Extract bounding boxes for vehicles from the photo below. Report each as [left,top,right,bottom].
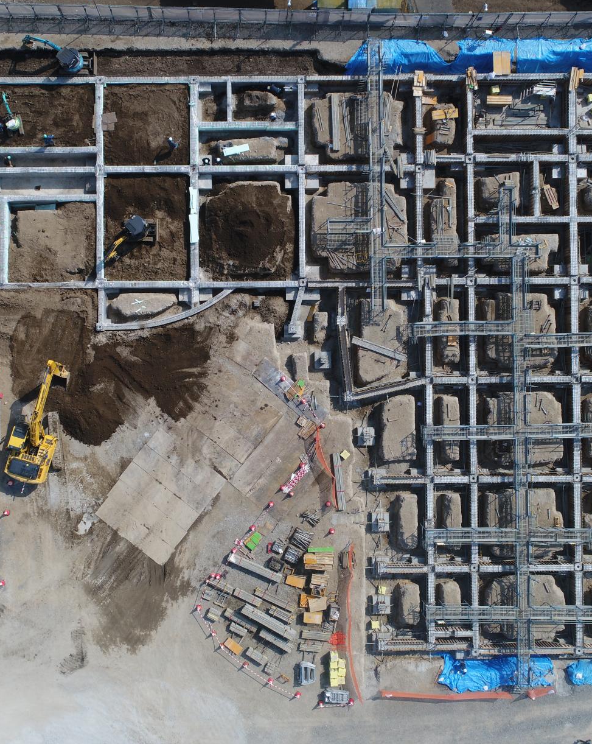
[0,356,76,486]
[0,88,33,137]
[23,29,94,76]
[104,214,165,270]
